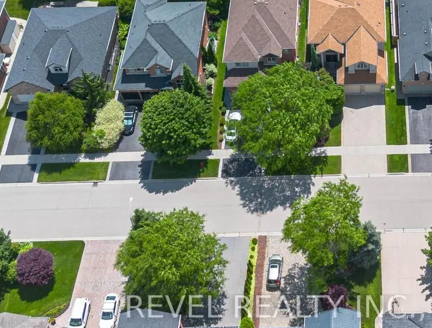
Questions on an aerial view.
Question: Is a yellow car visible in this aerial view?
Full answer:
No, the photo shows no yellow car.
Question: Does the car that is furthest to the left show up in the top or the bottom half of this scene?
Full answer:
The car that is furthest to the left is in the bottom half of the image.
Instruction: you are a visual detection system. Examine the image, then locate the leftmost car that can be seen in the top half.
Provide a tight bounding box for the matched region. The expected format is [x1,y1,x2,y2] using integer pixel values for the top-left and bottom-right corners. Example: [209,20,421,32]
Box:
[122,106,139,138]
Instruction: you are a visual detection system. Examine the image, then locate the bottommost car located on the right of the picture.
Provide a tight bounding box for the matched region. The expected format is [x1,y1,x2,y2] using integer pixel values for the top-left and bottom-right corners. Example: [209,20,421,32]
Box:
[266,253,284,292]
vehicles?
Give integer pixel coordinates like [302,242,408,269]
[98,292,121,328]
[266,253,284,292]
[225,113,241,142]
[122,106,139,138]
[66,290,91,328]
